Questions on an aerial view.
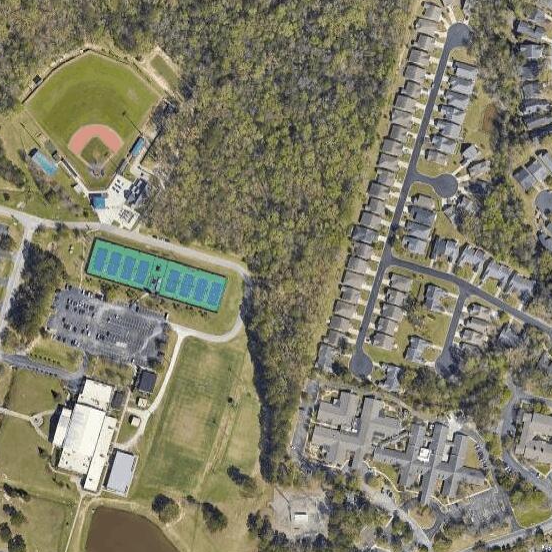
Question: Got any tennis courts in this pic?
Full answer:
Yes, the frame does contain a tennis court.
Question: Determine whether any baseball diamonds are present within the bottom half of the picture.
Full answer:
No, looking within the bottom half of the picture, there is no baseball diamond.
